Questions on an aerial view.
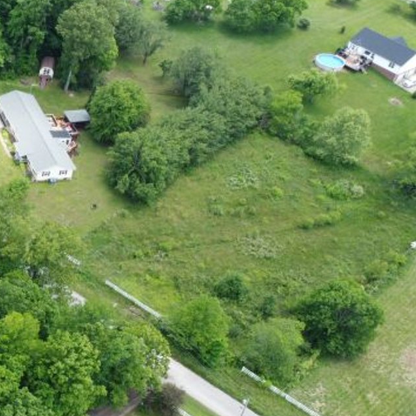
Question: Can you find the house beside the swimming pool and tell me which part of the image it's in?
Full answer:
You can find the house beside the swimming pool in the top right area of the picture.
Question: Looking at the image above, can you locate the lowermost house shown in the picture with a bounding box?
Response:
[0,86,95,180]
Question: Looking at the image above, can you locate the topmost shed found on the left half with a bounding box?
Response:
[37,54,53,83]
